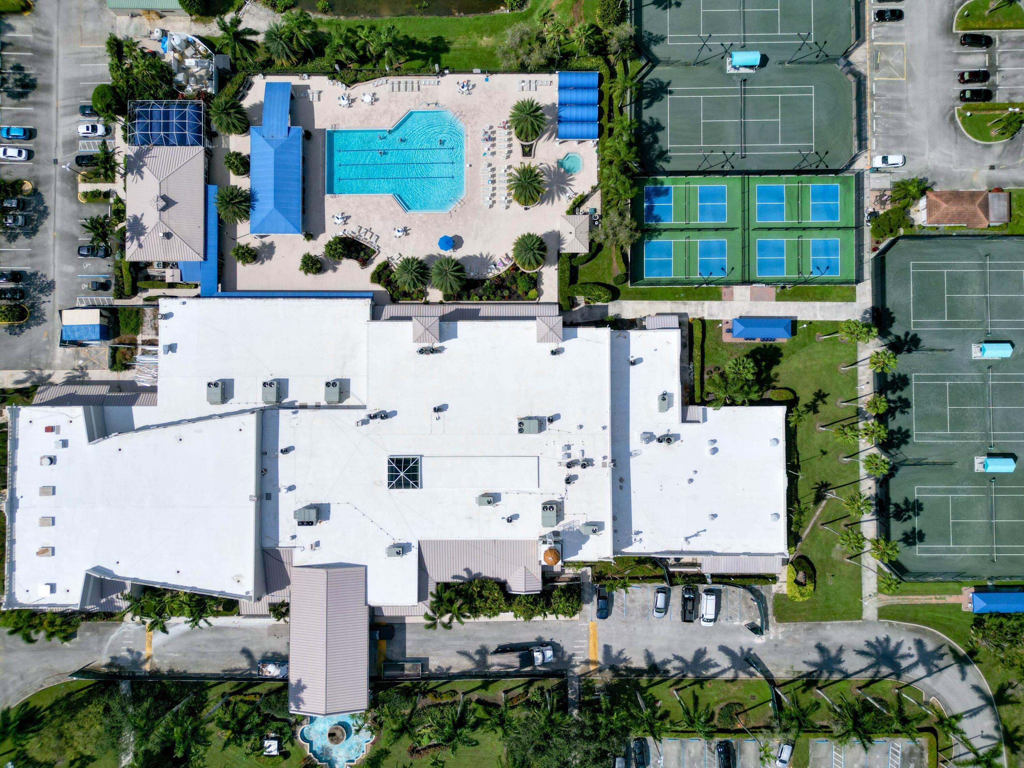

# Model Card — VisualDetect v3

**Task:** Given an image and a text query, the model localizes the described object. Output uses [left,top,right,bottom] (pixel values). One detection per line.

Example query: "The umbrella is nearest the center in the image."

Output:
[438,236,453,251]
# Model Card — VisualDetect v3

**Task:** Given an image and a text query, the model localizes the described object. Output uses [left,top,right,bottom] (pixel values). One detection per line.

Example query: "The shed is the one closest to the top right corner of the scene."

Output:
[913,191,1011,228]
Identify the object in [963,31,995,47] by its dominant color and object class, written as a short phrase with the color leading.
black car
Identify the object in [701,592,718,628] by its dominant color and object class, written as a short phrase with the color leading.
white vehicle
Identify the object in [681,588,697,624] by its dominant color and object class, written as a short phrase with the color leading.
black vehicle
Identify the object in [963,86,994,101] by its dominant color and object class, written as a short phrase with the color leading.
black car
